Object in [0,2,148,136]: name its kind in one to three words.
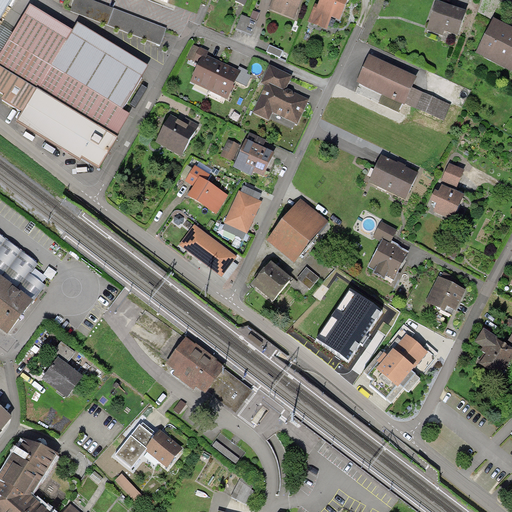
building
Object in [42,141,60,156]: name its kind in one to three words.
vehicle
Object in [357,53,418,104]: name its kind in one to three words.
barn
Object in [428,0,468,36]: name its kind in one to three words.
house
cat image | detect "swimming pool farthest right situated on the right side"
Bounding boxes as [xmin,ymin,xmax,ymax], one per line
[362,218,377,232]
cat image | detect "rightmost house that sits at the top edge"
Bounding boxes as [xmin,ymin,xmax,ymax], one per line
[476,18,512,74]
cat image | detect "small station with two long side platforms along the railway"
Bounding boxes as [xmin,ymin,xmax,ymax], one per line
[63,207,478,512]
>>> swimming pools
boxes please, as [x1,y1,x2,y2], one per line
[251,64,262,75]
[362,218,377,232]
